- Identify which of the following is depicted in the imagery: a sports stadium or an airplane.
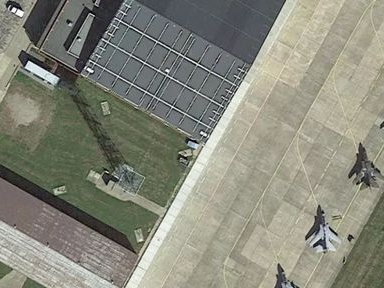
airplane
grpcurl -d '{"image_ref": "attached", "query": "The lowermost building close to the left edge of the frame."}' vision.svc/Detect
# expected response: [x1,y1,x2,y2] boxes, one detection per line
[0,177,136,288]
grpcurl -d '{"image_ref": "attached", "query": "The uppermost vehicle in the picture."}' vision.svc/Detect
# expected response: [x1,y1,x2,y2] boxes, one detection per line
[8,4,25,18]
